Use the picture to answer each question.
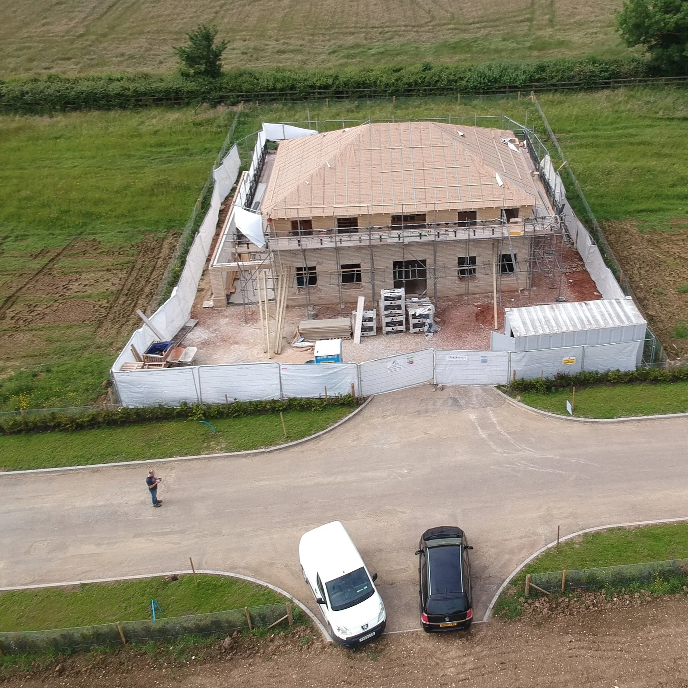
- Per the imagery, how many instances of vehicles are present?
2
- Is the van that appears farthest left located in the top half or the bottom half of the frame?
bottom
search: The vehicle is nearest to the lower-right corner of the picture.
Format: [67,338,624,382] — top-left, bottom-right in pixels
[413,527,478,636]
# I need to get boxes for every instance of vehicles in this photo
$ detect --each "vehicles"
[413,527,478,636]
[300,523,388,649]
